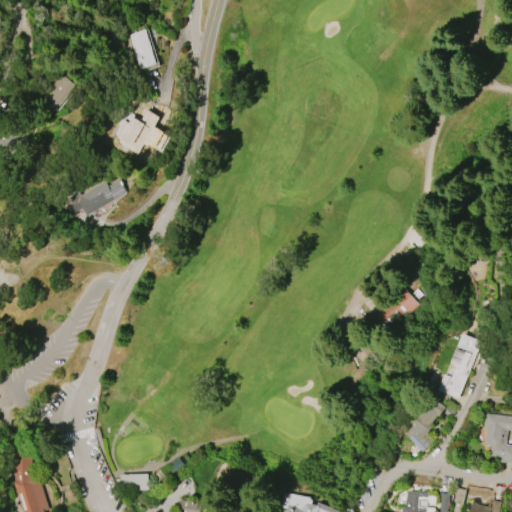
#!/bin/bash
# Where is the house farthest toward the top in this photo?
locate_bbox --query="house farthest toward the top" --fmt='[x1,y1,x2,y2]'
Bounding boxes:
[130,28,160,70]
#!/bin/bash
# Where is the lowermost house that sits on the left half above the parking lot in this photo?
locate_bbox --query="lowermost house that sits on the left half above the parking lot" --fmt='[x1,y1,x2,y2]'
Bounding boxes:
[71,179,126,216]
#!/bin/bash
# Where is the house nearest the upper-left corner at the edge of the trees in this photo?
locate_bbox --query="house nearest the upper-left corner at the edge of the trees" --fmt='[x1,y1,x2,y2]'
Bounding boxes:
[52,76,74,110]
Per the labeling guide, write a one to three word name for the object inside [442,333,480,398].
house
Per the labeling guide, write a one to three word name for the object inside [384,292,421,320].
house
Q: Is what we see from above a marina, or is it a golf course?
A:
golf course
